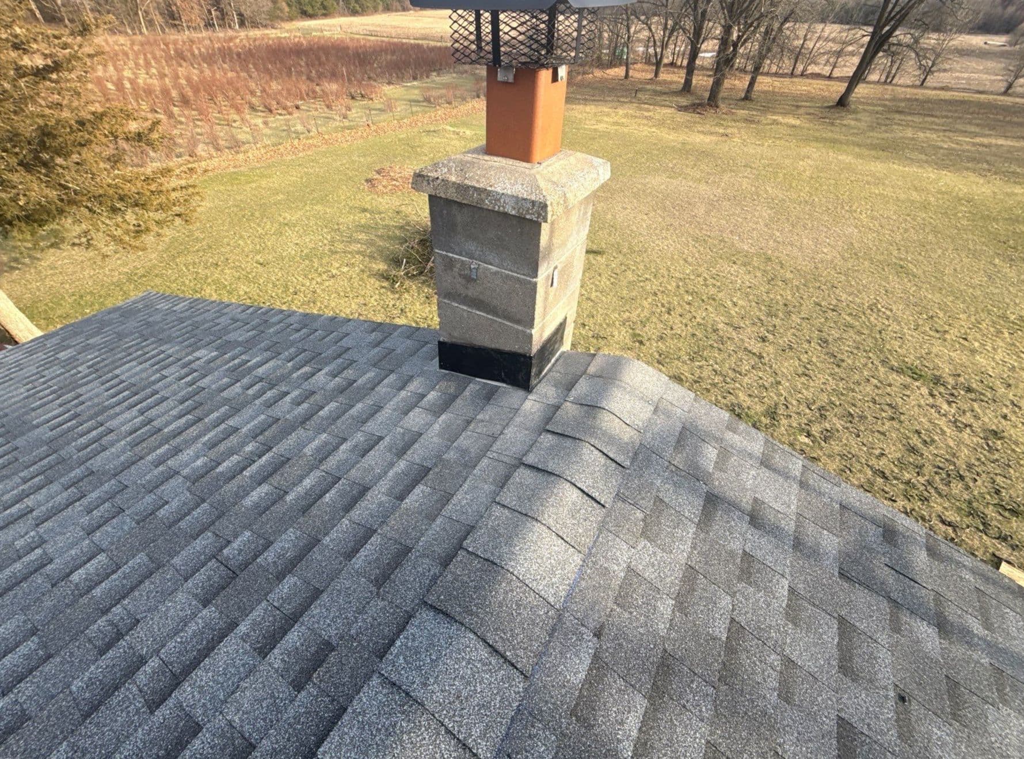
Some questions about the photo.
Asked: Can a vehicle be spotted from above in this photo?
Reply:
No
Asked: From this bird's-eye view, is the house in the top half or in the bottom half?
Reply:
bottom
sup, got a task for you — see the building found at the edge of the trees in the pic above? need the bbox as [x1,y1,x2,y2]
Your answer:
[0,291,1024,759]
